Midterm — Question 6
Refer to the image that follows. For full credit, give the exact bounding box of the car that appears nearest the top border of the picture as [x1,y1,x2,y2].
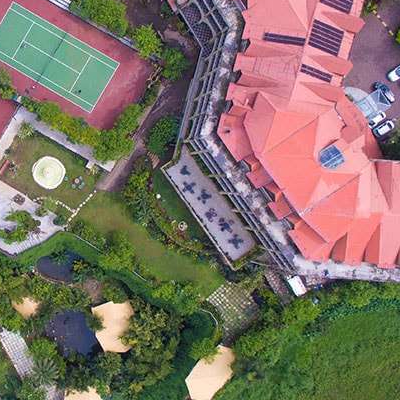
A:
[384,65,400,82]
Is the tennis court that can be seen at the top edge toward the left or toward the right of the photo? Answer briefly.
left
